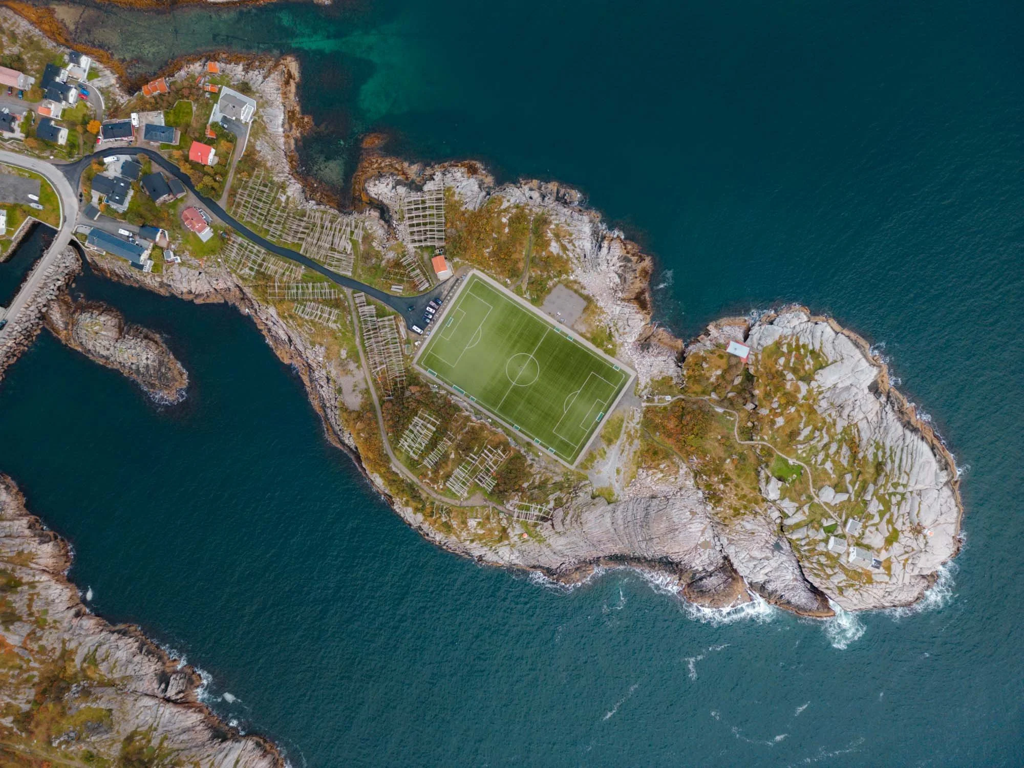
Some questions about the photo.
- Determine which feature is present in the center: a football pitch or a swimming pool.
football pitch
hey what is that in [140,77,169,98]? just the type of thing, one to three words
building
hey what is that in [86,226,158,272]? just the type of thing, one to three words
house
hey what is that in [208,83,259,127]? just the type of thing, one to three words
house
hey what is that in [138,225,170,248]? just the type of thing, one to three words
building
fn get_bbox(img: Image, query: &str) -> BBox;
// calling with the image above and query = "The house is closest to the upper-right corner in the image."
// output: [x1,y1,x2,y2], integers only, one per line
[725,338,750,363]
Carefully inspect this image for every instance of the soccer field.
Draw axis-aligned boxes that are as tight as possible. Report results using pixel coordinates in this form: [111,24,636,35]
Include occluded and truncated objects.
[410,267,638,472]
